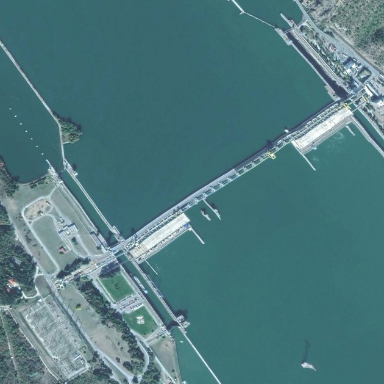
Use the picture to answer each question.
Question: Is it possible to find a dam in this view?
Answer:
Yes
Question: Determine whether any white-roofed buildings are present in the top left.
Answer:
No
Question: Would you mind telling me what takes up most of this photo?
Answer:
water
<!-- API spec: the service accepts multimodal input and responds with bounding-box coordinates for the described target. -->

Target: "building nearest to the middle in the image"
[129,214,194,264]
